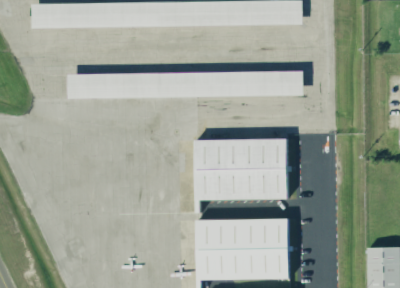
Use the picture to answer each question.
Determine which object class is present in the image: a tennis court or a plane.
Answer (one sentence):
Looking from above, you can make out a plane.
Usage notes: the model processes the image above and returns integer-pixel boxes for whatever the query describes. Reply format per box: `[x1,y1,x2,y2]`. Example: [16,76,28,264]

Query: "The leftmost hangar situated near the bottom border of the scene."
[196,218,294,288]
